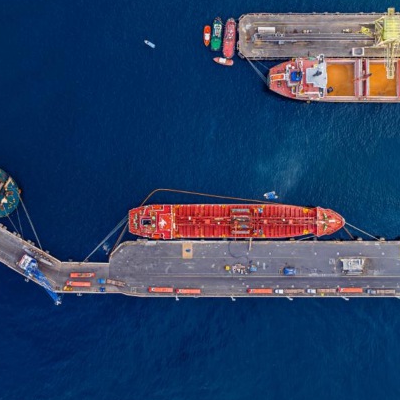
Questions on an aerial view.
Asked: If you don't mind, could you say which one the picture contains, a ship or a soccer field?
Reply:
ship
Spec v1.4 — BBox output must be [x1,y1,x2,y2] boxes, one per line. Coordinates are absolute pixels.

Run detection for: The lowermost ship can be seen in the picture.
[129,204,345,241]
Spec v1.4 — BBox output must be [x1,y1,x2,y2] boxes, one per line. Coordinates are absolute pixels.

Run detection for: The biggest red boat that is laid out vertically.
[222,19,237,58]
